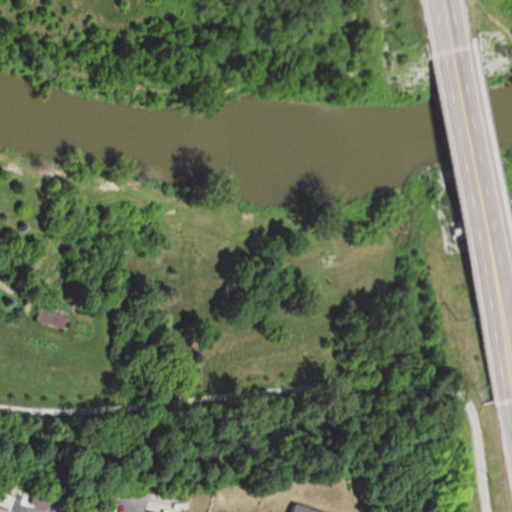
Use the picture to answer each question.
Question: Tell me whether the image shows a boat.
No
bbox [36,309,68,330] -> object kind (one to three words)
building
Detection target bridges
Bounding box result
[430,28,512,407]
